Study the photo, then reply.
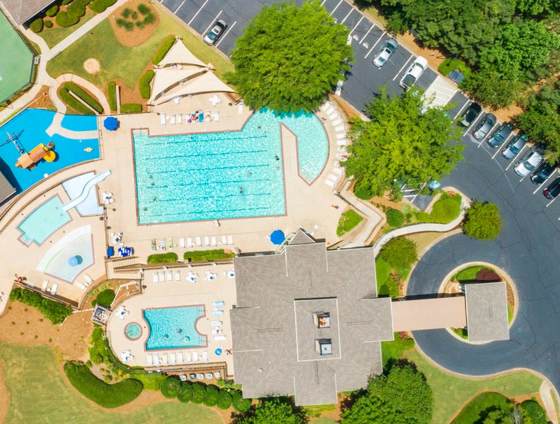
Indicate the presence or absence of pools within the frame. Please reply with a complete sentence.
Yes, the picture does show a pool.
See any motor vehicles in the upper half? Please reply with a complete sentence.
Yes, you'll find a motor vehicle in the upper half.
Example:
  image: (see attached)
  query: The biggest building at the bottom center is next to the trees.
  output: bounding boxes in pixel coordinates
[228,228,396,407]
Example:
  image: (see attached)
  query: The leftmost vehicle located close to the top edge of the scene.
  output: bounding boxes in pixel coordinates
[203,18,229,46]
